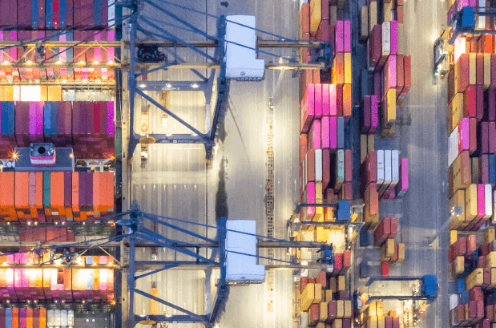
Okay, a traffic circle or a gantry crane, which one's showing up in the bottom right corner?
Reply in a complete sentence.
Looking in the bottom right corner, you will find a gantry crane.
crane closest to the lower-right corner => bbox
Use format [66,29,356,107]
[349,273,442,325]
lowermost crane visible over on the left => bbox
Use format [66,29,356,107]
[0,195,334,328]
